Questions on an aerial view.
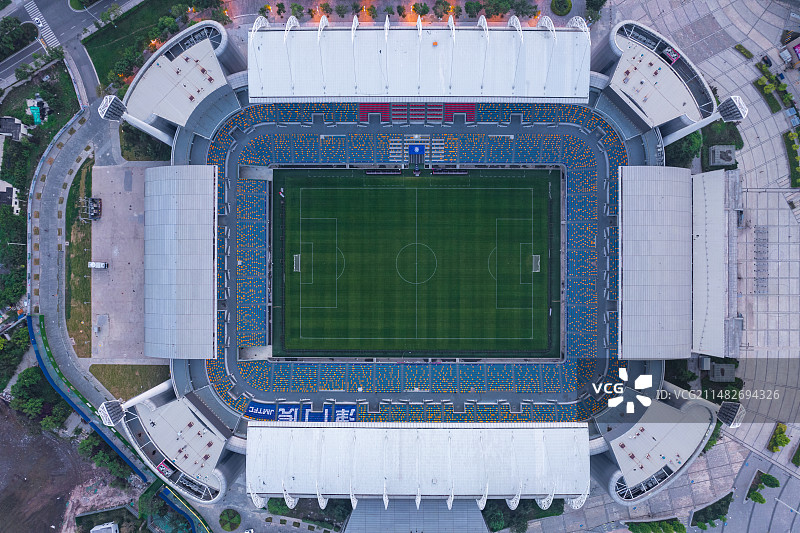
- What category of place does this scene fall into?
sports ground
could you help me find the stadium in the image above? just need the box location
[145,20,743,533]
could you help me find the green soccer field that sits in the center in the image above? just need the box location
[273,169,562,358]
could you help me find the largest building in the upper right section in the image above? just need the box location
[591,20,716,134]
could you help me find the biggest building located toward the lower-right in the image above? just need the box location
[591,389,717,506]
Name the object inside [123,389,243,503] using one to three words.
building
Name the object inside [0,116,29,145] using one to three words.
house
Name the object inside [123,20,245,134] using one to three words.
building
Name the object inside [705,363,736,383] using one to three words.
house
